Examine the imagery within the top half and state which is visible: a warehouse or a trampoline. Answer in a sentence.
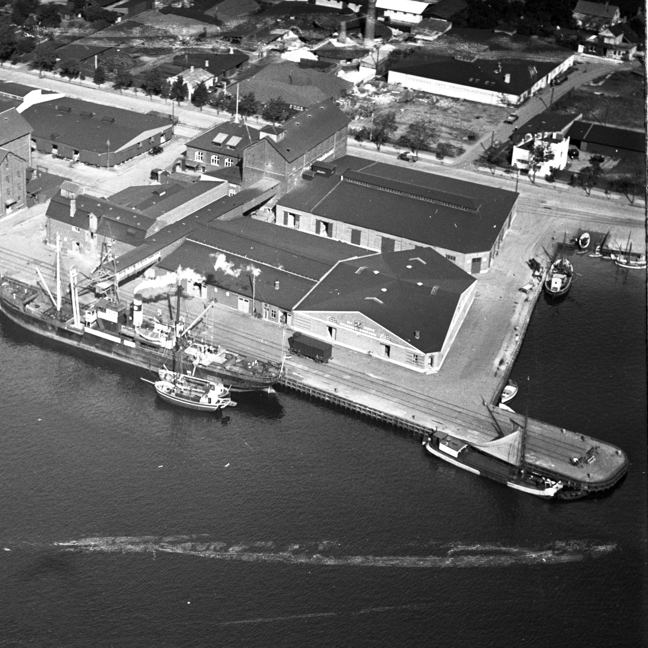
It is a warehouse that can be seen within the top half.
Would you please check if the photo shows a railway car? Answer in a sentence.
Yes, a railway car appears in the view.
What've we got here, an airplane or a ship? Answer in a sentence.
This aerial view contains a ship.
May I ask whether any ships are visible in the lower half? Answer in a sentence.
Yes, you'll find a ship in the lower half.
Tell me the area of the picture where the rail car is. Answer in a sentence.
The rail car is in the center part of the image.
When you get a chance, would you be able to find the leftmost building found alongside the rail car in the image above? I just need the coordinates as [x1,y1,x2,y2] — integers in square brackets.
[146,218,360,328]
